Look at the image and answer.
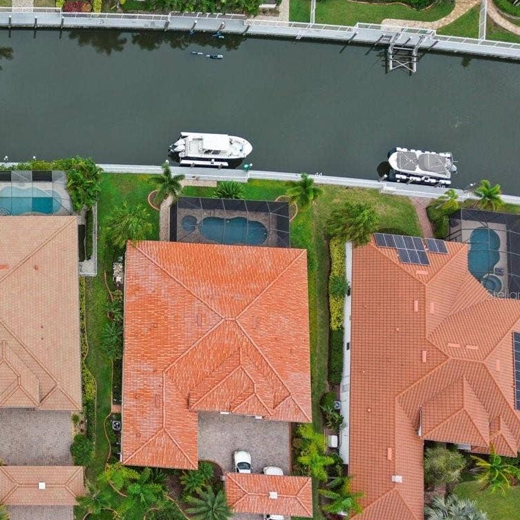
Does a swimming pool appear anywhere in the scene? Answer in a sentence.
Yes, there's a swimming pool down there.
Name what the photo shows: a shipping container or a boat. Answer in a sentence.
This aerial view contains a boat.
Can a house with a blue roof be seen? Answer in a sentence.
No, there is no house with a blue roof in the image.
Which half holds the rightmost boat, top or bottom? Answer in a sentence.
Seen from above, the rightmost boat lies in the top half of the view.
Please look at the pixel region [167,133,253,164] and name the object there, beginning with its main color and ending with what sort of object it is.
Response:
white boat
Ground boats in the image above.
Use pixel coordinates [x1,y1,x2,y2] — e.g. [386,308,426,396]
[167,133,253,164]
[387,152,456,184]
[207,52,224,59]
[192,50,205,56]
